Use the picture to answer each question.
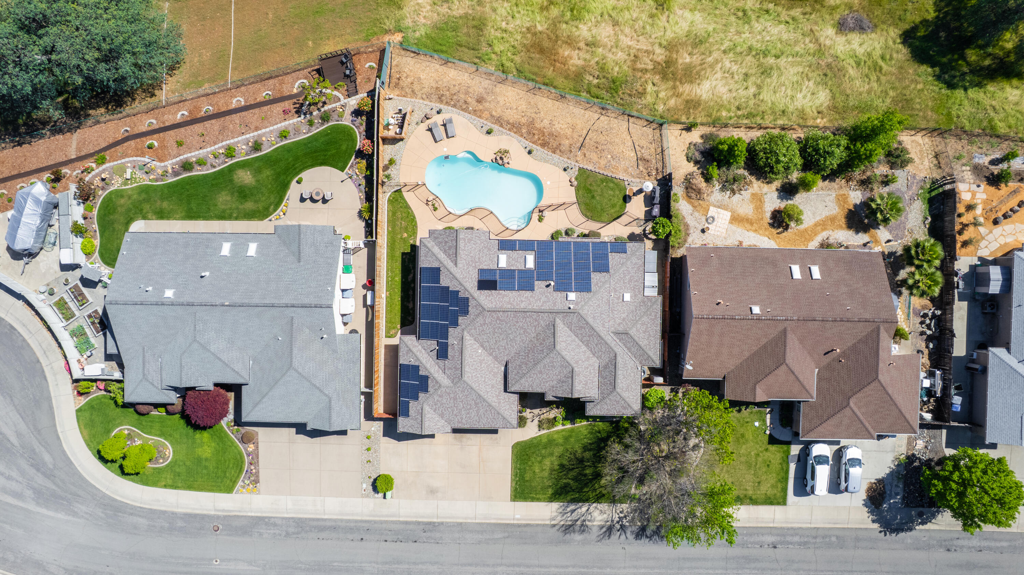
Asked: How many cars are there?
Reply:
2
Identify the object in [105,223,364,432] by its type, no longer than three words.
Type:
house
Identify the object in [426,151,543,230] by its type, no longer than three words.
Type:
swimming pool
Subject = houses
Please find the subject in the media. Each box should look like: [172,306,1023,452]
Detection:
[396,229,664,435]
[679,244,922,441]
[970,250,1024,446]
[105,223,364,432]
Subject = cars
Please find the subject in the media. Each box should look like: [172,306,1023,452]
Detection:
[805,441,835,496]
[837,444,866,494]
